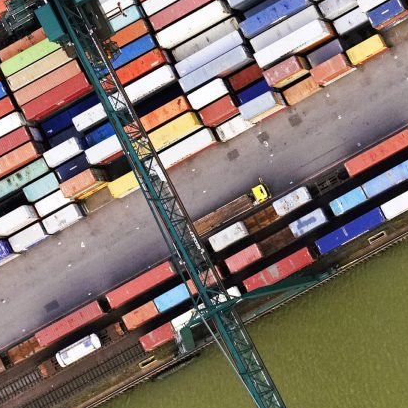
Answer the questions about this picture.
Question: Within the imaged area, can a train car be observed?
Yes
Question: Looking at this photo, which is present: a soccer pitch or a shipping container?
shipping container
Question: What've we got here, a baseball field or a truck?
truck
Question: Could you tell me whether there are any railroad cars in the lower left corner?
Yes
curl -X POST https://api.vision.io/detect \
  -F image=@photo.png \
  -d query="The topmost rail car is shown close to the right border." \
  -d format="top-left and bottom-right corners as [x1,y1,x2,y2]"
[311,149,408,200]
